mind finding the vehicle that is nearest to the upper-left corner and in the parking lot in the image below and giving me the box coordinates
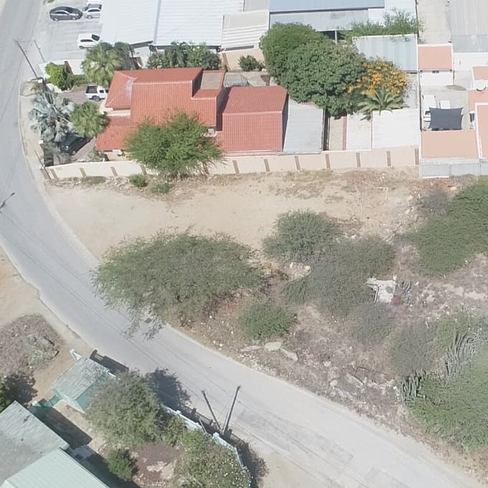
[48,4,83,21]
